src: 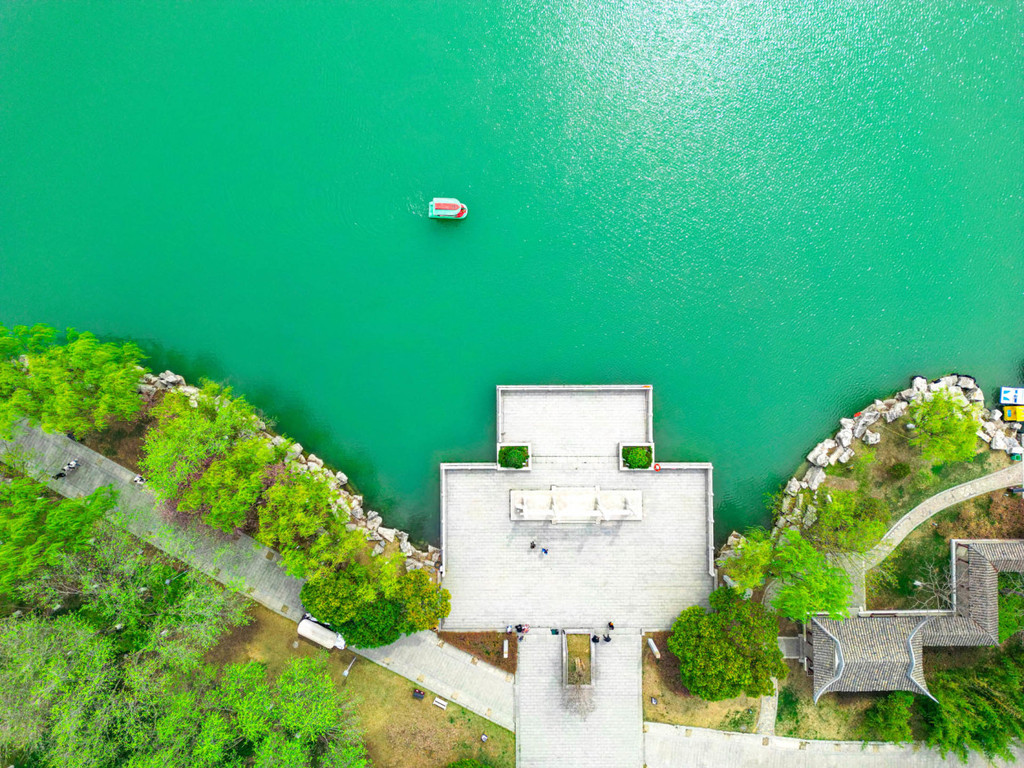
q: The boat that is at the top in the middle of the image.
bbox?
[428,198,468,218]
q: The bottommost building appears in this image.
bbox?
[793,611,939,707]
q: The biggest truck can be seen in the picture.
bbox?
[296,621,348,656]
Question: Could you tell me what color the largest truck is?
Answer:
white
